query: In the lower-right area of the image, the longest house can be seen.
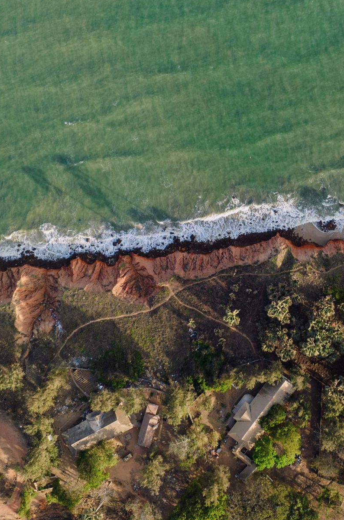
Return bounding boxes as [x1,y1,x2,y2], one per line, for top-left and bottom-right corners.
[228,373,294,451]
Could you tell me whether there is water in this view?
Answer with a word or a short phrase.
Yes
